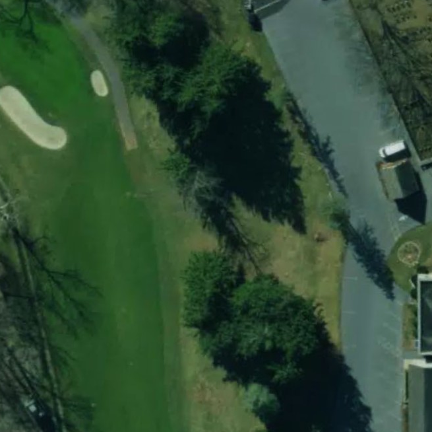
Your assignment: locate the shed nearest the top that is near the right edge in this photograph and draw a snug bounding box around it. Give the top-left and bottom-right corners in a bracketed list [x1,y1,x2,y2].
[379,156,425,201]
